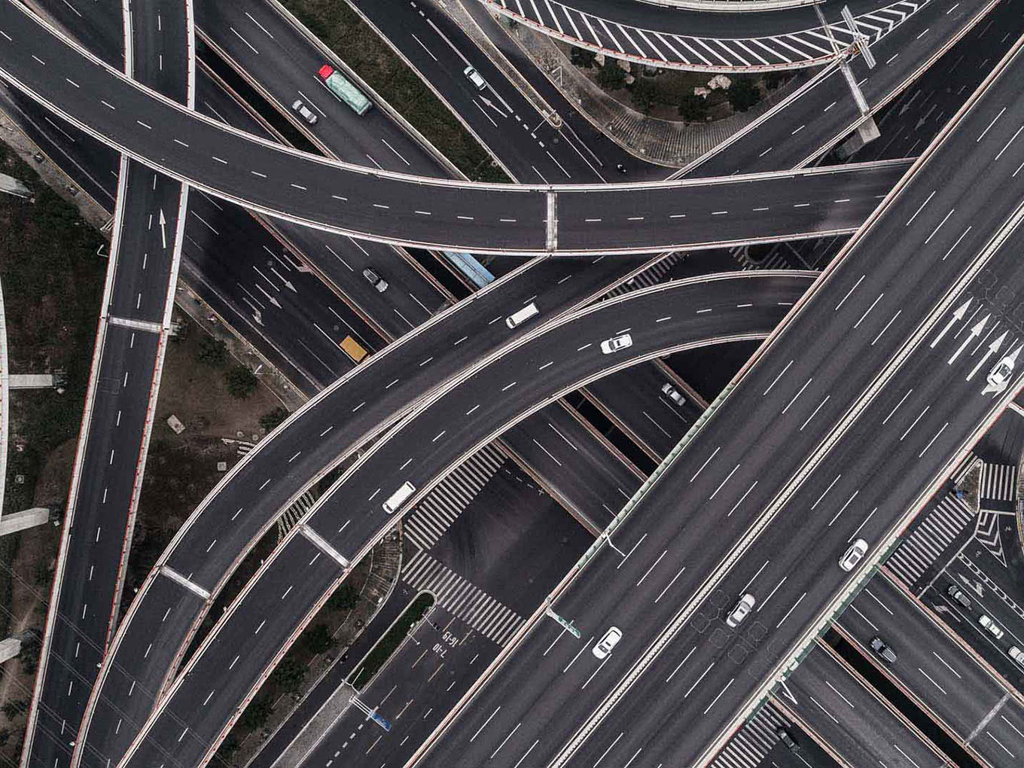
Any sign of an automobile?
Yes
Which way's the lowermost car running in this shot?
diagonally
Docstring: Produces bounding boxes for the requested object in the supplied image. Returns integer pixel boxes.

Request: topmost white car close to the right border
[984,356,1015,388]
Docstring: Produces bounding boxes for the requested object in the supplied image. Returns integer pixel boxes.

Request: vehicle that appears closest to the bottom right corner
[1004,644,1024,670]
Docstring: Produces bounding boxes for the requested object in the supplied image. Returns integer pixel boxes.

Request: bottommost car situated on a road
[774,724,799,750]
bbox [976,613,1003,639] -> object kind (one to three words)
car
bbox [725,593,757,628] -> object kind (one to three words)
car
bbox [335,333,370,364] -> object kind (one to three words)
truck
